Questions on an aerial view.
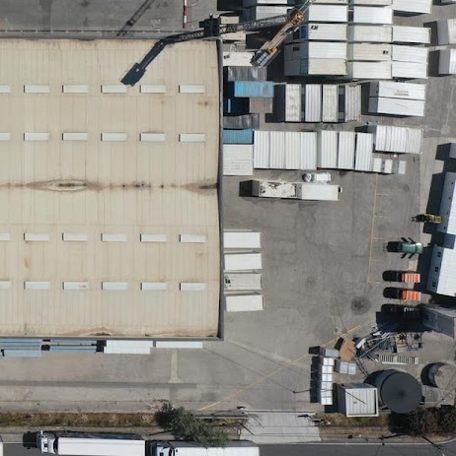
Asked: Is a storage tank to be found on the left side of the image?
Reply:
No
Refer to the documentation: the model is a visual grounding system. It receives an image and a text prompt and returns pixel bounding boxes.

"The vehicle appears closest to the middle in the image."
[297,170,331,184]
